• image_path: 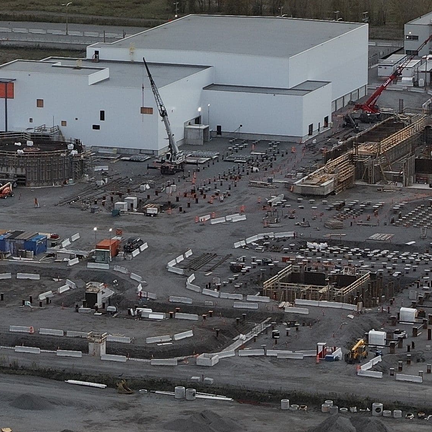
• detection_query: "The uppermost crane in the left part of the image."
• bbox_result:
[141,56,201,173]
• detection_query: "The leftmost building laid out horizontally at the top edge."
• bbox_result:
[0,14,369,156]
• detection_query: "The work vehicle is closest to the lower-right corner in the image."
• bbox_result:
[325,337,374,364]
